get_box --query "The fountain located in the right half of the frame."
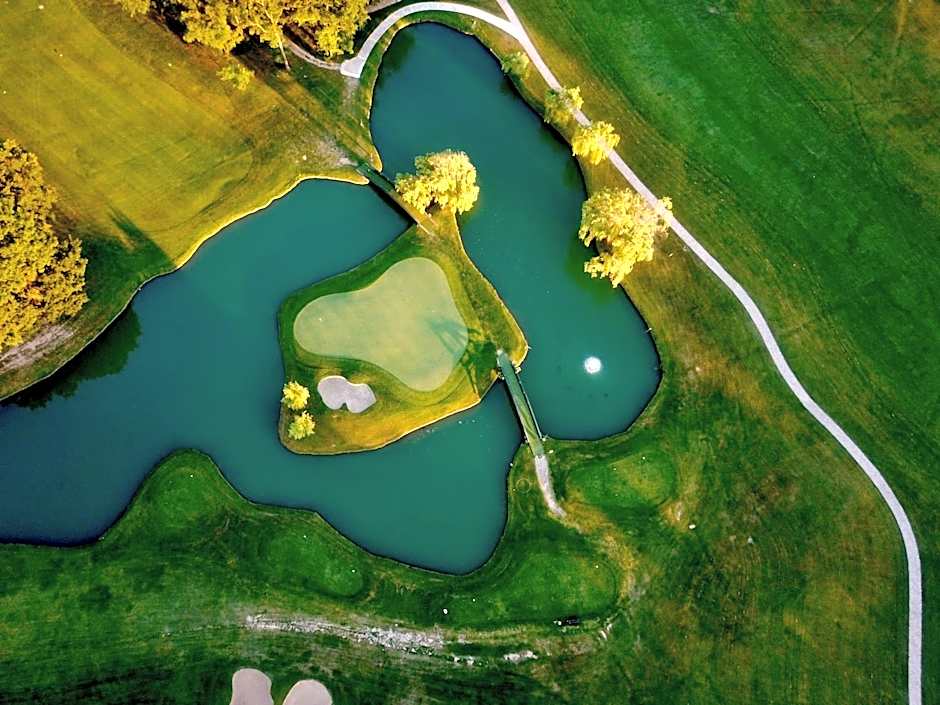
[580,354,604,375]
